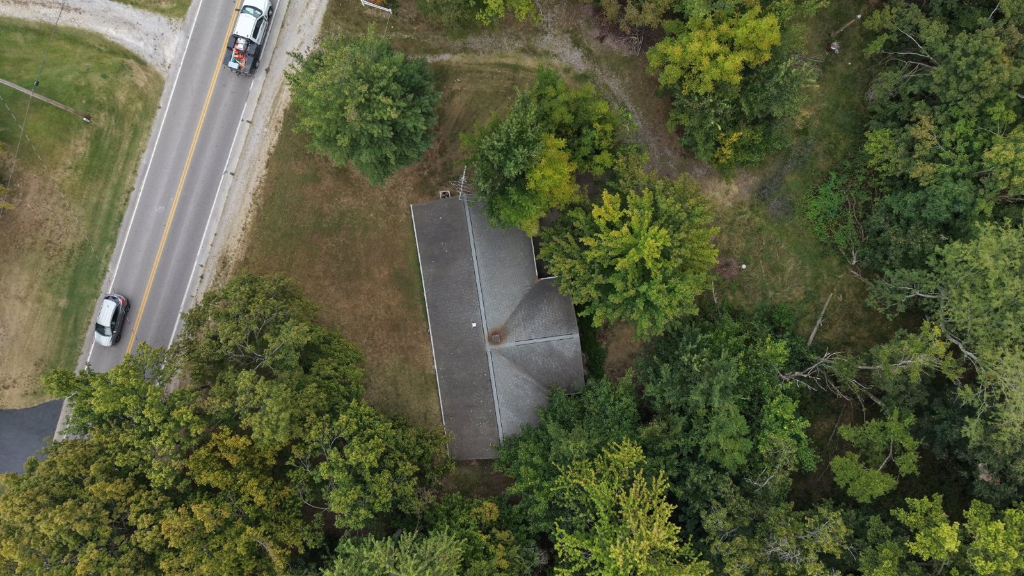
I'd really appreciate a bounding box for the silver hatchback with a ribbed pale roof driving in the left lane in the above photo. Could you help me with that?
[94,293,131,347]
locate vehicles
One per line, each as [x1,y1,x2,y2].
[94,293,131,347]
[224,0,274,75]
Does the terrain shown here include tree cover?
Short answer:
Yes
